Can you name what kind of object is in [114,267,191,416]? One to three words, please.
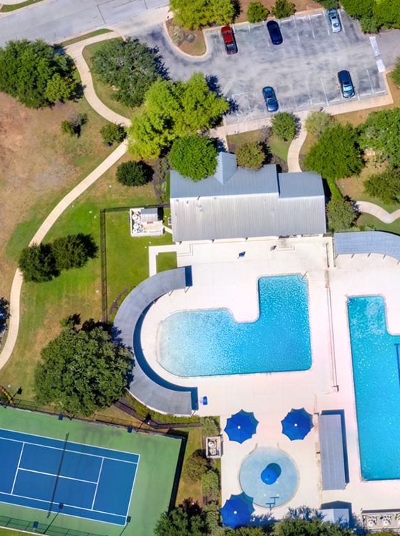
building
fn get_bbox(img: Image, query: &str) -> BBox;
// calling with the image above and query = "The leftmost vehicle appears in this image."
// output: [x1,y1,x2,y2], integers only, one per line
[221,25,238,56]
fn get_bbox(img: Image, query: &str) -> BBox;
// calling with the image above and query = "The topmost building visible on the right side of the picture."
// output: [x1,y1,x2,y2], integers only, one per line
[170,152,327,242]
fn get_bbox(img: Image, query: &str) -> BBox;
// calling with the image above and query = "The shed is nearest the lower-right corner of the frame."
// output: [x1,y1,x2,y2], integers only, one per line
[317,508,348,529]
